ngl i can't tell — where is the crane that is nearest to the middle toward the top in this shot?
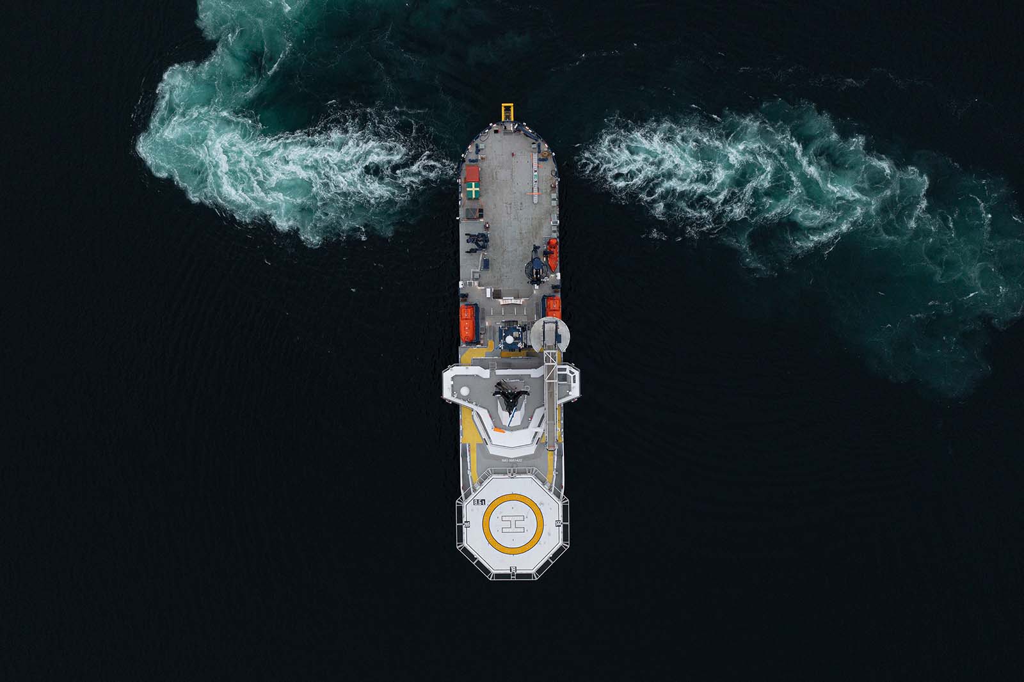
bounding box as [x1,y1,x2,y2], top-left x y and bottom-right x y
[525,245,549,294]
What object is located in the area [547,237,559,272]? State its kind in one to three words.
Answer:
boat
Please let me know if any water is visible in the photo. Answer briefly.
Yes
